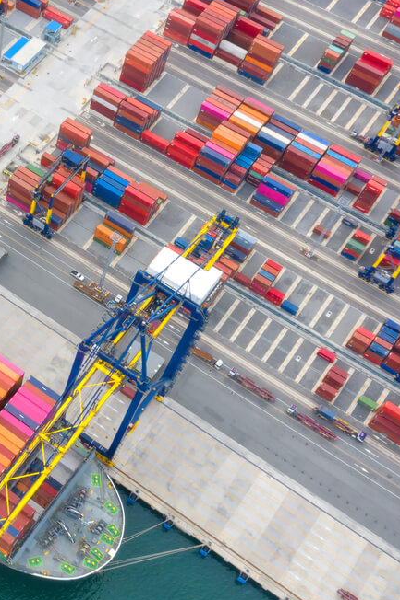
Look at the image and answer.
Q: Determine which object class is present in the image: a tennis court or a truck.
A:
truck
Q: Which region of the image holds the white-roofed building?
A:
top left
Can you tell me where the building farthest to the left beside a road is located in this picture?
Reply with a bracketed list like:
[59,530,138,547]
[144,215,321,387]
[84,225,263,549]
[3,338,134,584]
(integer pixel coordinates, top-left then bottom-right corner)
[0,38,46,79]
